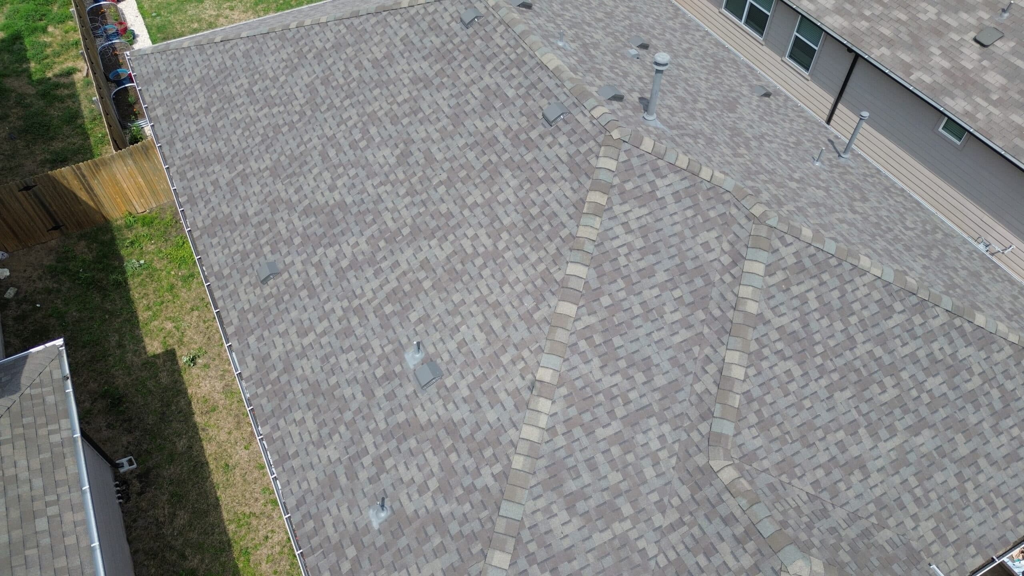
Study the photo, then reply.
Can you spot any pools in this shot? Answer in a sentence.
No, the picture doesn't show any pool.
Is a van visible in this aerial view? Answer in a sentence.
No, there appears to be no van in this shot.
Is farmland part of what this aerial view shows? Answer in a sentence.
No, there is no farmland in the image.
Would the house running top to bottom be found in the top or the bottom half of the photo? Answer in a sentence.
Seen from above, the house running top to bottom lies in the bottom half of the view.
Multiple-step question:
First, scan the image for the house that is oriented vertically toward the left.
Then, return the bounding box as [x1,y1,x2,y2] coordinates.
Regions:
[0,305,138,576]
